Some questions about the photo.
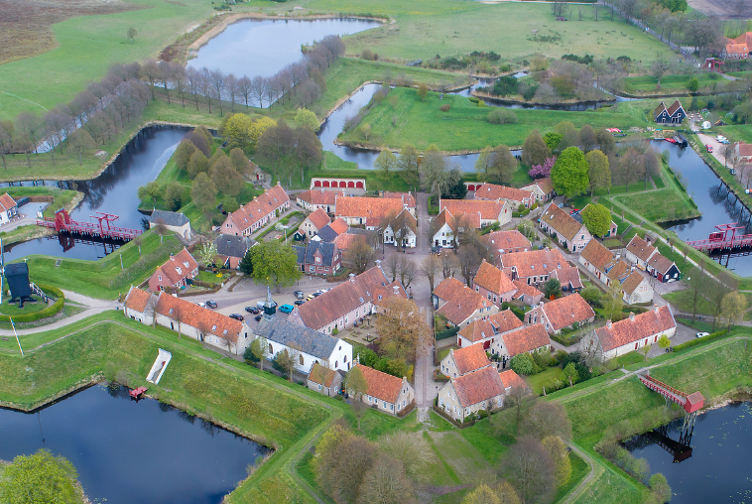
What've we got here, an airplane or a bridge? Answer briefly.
bridge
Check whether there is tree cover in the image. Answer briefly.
Yes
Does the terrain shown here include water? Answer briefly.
Yes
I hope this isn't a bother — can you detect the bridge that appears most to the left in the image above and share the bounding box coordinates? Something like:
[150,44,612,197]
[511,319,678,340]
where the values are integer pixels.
[35,205,143,242]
